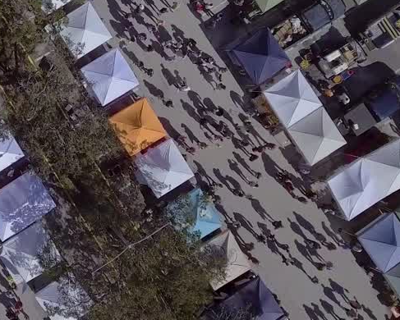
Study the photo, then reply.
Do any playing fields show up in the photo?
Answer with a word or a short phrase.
No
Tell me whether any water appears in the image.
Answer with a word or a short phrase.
No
